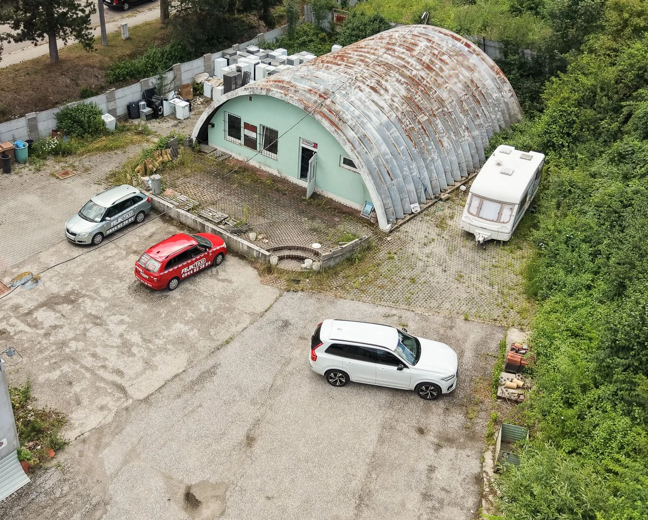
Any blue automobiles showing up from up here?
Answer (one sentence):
No, this view has no blue automobile in it.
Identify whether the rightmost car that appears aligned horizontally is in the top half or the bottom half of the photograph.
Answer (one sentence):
It is in the bottom half that the rightmost car that appears aligned horizontally appears.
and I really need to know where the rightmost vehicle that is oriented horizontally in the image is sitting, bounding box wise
[308,316,460,401]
